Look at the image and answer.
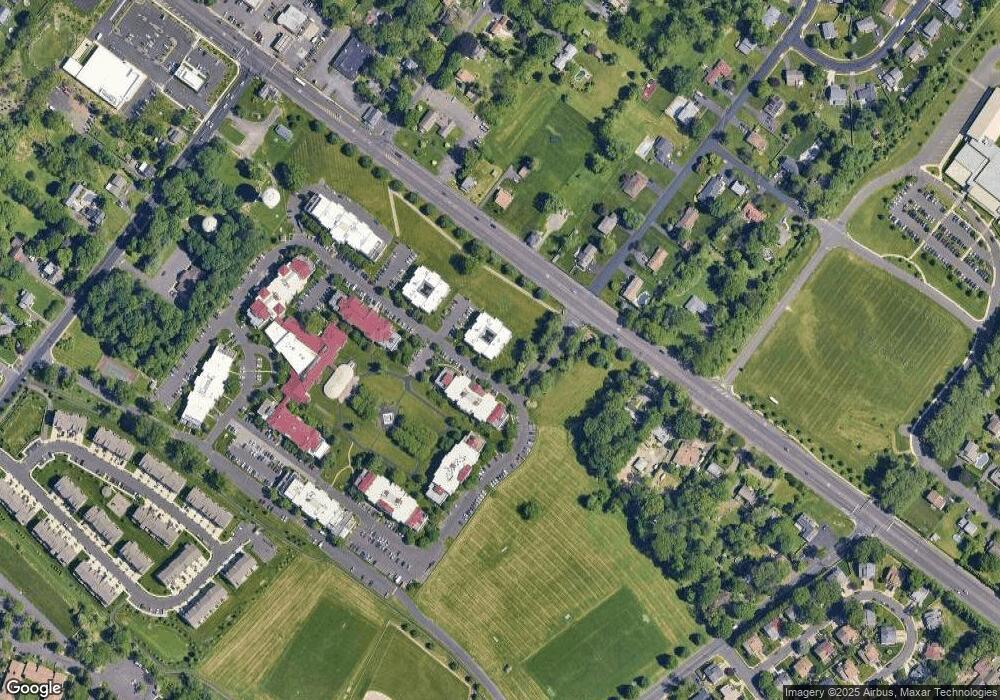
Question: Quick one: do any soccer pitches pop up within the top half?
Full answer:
No, I can find no soccer pitch within the top half.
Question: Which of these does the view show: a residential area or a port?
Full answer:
The picture captures a residential area.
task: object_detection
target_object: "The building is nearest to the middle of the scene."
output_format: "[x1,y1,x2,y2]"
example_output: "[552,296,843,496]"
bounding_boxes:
[462,311,516,362]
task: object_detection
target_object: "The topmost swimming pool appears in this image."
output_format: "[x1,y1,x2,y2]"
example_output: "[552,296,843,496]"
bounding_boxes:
[571,67,592,86]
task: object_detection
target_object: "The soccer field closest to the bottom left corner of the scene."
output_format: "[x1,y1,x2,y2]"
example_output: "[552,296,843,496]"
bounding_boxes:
[258,594,381,700]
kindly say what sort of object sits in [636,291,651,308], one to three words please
swimming pool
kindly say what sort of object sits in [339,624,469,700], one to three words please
baseball field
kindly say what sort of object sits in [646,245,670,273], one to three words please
house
